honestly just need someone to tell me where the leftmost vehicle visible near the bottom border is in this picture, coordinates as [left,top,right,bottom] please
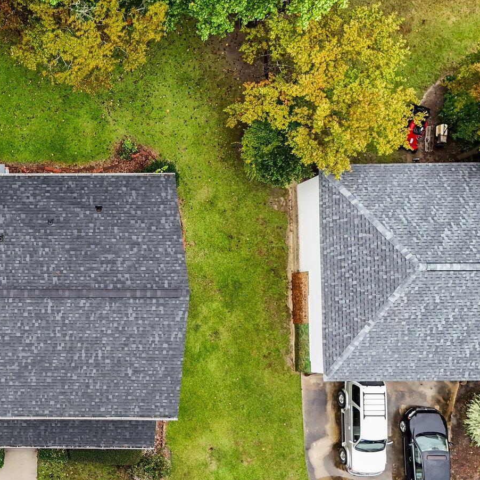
[340,380,396,476]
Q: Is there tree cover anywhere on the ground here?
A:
Yes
